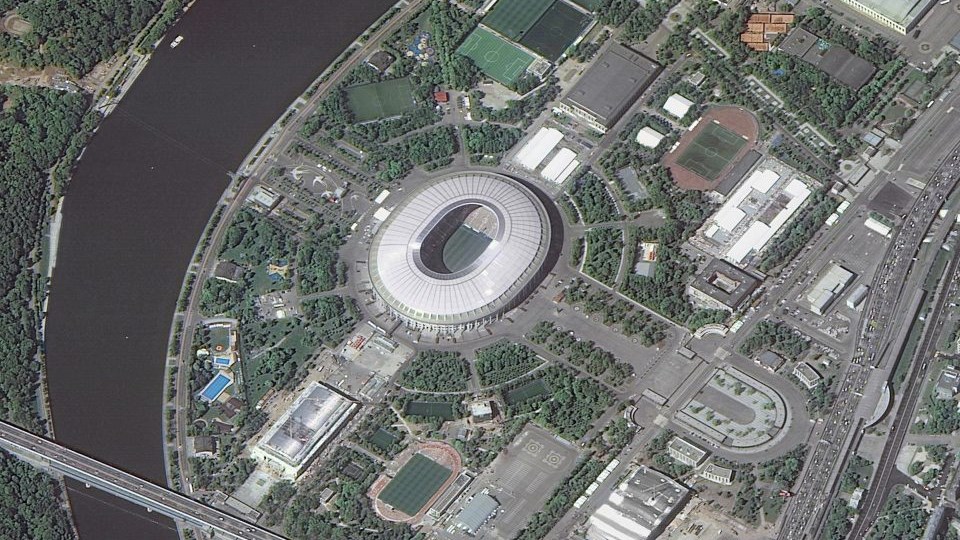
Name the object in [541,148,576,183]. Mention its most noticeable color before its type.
white tent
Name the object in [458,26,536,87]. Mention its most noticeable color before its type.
green soccer field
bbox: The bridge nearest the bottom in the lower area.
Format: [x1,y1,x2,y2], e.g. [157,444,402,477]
[0,420,286,540]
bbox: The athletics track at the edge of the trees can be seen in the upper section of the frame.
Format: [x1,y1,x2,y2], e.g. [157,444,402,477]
[660,105,758,190]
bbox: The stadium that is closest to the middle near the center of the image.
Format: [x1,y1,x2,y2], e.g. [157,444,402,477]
[368,172,550,335]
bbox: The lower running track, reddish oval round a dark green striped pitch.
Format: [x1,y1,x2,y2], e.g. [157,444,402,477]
[369,441,461,524]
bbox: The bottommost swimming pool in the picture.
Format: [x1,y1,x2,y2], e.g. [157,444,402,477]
[201,368,236,402]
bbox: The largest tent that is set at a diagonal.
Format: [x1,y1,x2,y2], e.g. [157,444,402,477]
[516,128,563,172]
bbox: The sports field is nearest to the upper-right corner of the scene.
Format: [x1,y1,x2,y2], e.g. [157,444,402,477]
[675,121,746,181]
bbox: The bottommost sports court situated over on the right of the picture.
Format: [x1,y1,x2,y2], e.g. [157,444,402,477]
[616,166,646,199]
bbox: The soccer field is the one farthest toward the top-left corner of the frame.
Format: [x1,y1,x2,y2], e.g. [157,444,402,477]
[343,78,415,124]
